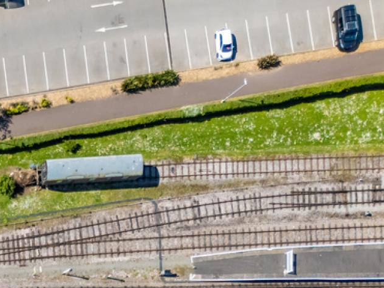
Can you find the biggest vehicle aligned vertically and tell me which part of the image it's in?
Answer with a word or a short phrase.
top right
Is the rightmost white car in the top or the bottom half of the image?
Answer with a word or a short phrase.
top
